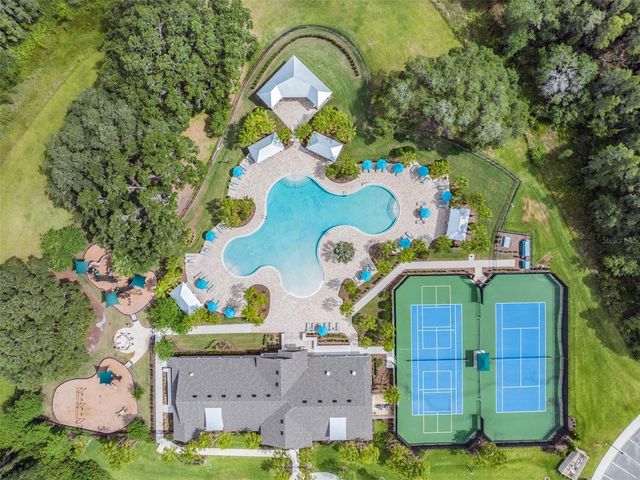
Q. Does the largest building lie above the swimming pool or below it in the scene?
below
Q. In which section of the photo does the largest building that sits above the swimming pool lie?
top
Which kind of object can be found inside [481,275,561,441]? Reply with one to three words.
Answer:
tennis court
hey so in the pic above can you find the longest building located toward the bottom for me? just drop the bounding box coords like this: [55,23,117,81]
[171,346,372,454]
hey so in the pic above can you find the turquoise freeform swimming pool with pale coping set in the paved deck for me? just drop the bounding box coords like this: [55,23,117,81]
[221,174,401,299]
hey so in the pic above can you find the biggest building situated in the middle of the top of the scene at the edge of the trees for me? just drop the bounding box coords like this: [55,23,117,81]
[257,55,332,111]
